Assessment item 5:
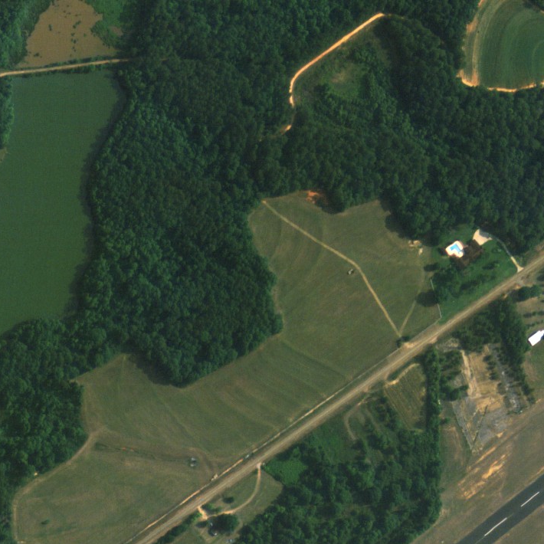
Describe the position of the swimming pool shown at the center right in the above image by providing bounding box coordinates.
[445,241,463,256]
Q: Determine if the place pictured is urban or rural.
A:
rural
